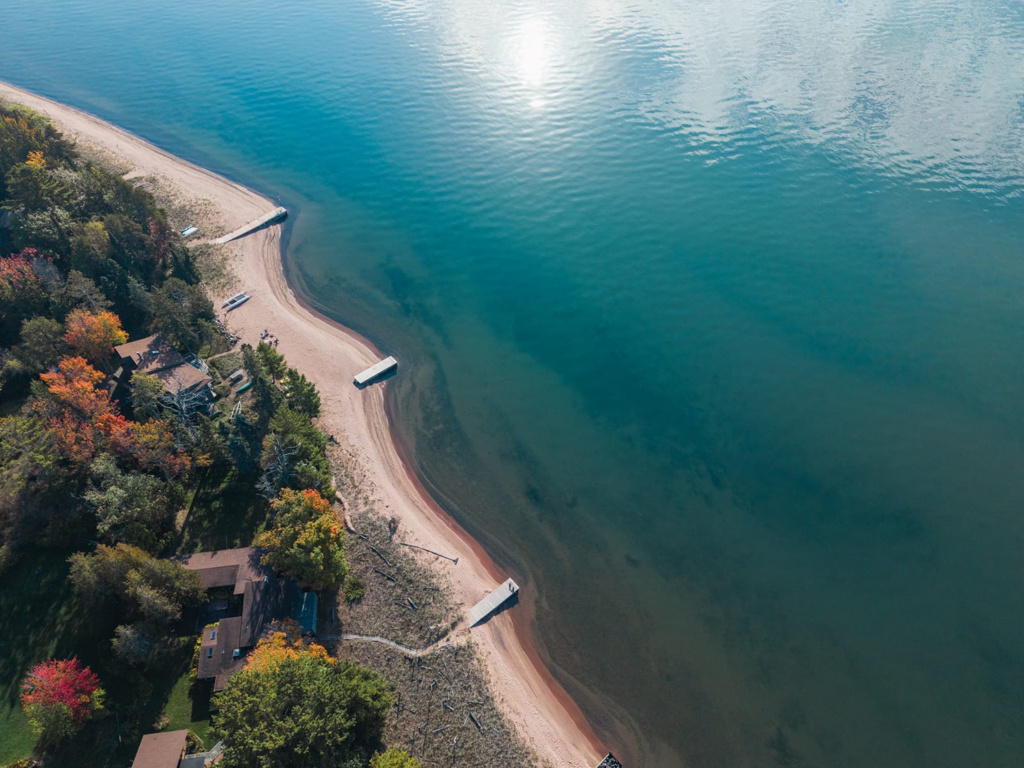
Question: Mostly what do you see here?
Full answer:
The largest share of the image is taken up by water.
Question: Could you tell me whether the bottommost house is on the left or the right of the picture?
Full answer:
It is on the left.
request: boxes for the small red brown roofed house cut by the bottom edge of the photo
[131,729,206,768]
